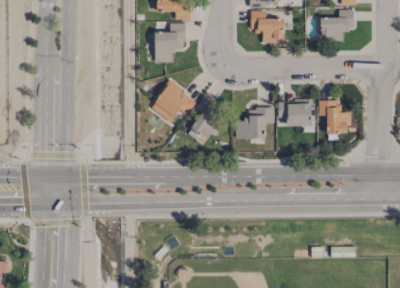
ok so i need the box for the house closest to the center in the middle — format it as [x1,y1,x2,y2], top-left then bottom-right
[186,112,222,140]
